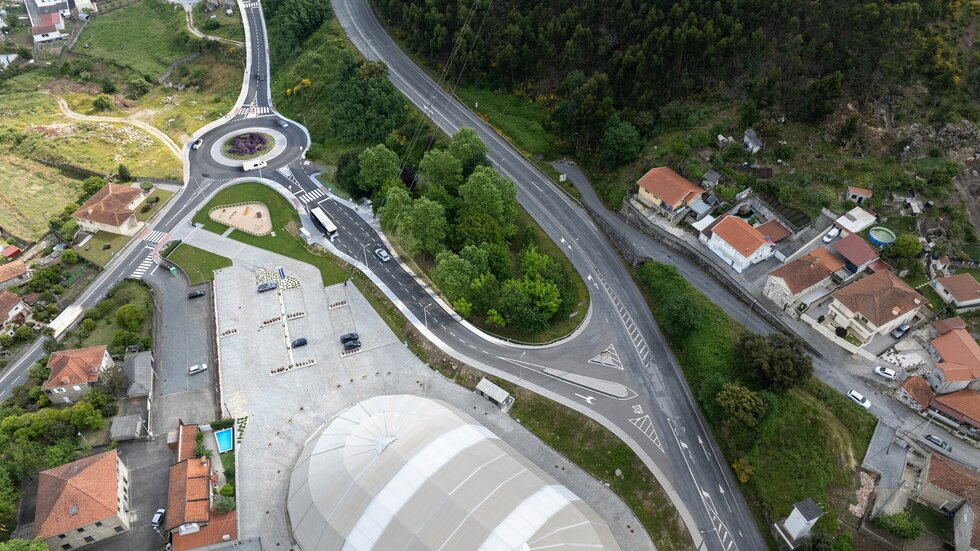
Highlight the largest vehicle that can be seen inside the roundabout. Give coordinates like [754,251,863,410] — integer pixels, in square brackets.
[243,156,268,170]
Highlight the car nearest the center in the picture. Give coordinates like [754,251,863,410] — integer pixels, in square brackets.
[372,245,391,259]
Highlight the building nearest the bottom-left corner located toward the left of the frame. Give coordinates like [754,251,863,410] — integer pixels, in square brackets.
[0,449,131,551]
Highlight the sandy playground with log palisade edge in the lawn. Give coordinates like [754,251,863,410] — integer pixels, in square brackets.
[209,201,272,235]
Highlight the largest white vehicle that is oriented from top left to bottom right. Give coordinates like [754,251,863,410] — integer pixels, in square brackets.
[308,206,342,244]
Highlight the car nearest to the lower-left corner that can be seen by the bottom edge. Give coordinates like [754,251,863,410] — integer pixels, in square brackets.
[146,504,167,529]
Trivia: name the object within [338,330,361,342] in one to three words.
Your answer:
vehicle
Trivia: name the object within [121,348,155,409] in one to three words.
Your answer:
shed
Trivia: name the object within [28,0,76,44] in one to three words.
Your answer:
house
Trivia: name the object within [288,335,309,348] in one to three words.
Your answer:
vehicle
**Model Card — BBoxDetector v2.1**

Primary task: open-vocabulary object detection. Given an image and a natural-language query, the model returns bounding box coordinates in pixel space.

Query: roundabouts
[189,115,308,185]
